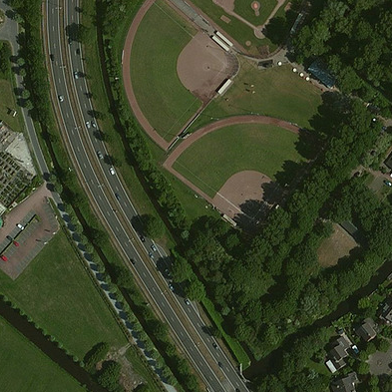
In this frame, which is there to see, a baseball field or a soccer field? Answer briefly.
baseball field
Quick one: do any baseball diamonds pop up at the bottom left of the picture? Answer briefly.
No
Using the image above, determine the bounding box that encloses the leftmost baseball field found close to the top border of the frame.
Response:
[123,0,238,150]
